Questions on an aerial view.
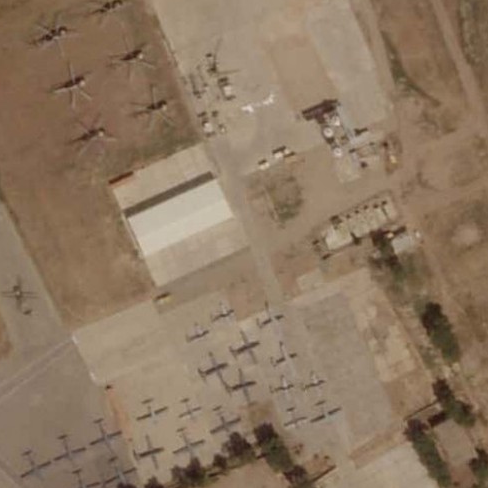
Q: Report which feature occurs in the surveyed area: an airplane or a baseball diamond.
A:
airplane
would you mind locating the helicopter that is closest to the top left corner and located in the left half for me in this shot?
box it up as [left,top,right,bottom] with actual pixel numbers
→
[30,13,77,53]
